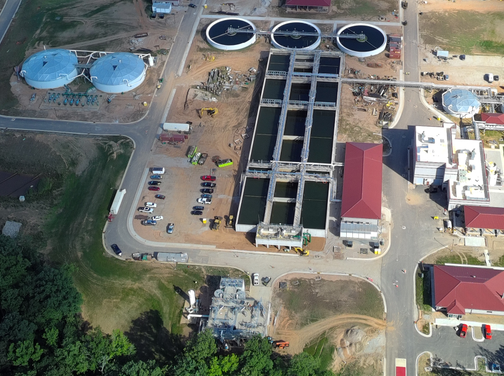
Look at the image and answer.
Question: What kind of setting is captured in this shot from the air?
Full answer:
This image shows an industrial area.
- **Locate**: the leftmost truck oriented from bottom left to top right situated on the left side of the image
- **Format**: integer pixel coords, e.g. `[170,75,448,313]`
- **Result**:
[100,182,130,226]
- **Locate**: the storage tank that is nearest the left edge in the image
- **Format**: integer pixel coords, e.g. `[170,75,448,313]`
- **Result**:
[17,45,78,89]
